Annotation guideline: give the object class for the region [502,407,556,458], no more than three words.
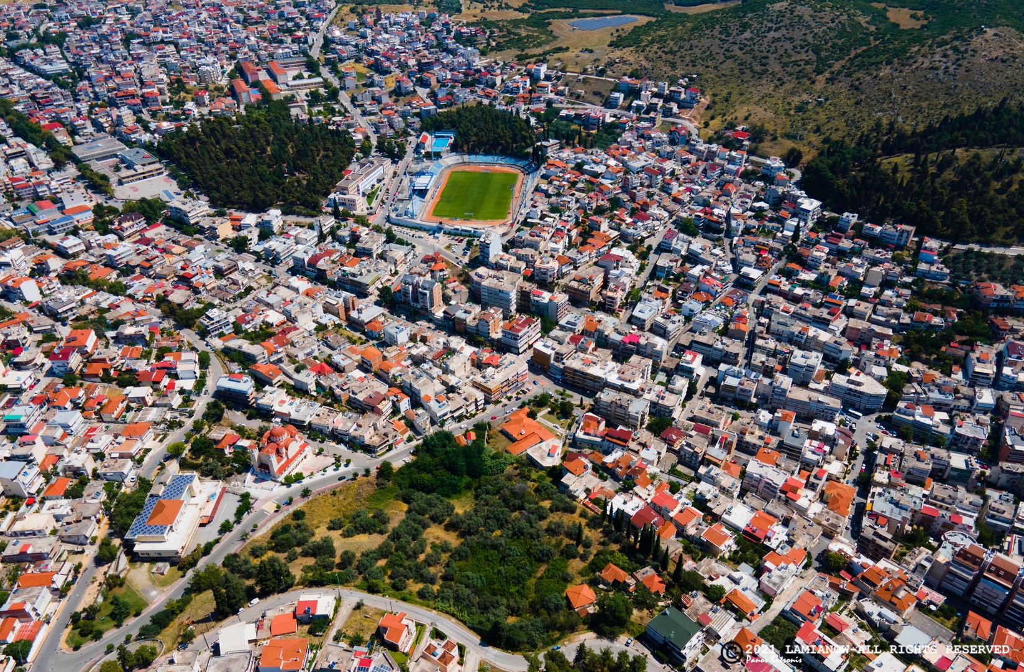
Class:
building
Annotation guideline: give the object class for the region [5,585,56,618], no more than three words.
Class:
building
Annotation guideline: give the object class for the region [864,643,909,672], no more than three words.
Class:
house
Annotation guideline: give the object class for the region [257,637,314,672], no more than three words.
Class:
house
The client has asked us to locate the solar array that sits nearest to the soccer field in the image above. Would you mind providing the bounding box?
[569,15,641,31]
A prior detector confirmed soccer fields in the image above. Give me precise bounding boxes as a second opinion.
[432,171,518,219]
